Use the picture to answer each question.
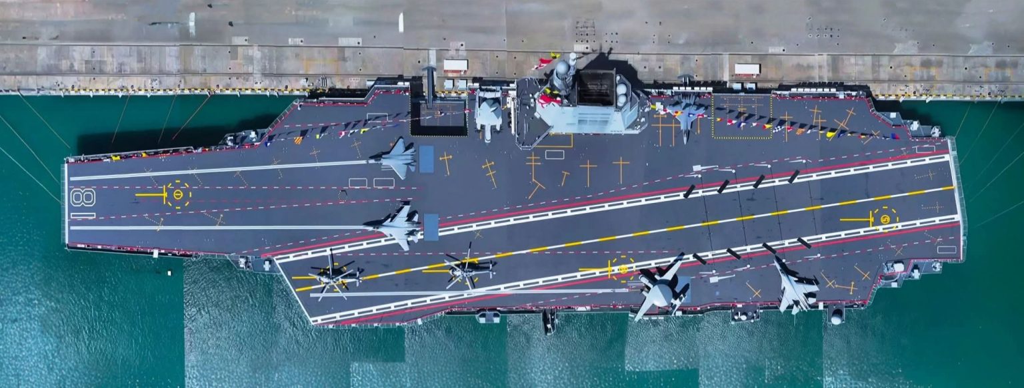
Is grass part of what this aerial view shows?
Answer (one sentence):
No, the scene doesn't show any grass.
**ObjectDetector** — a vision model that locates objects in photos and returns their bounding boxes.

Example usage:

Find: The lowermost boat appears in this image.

[543,310,556,336]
